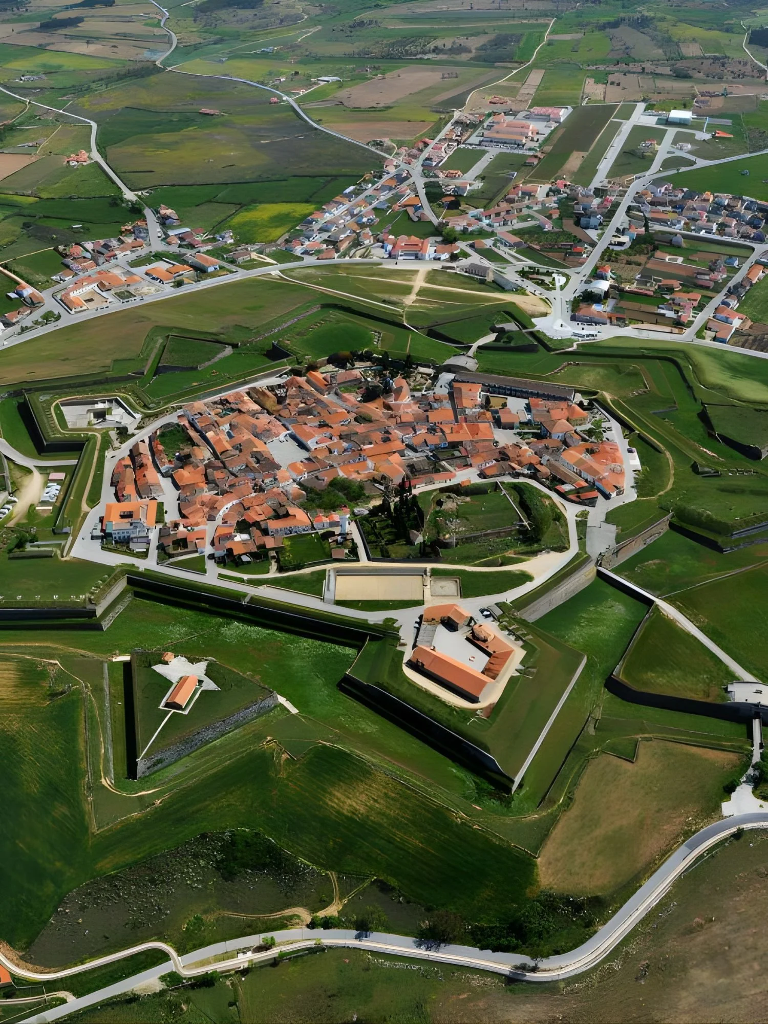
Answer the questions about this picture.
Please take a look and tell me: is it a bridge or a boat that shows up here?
bridge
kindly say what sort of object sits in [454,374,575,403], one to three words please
shed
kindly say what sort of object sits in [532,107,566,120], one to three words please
building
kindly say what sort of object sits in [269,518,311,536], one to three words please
house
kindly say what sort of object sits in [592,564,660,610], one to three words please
bridge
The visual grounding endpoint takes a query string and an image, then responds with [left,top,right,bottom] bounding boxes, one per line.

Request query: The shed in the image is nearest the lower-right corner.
[415,623,437,649]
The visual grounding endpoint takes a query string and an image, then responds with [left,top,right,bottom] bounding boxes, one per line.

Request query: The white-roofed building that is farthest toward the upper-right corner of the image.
[667,108,691,125]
